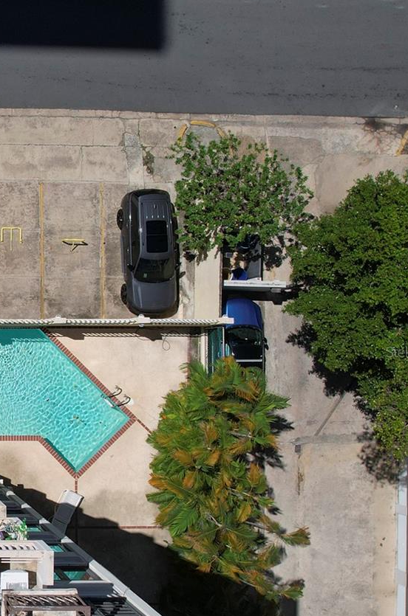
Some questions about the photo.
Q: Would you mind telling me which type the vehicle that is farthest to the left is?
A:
automobile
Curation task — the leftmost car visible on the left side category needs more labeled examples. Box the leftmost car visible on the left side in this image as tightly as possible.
[116,189,184,317]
